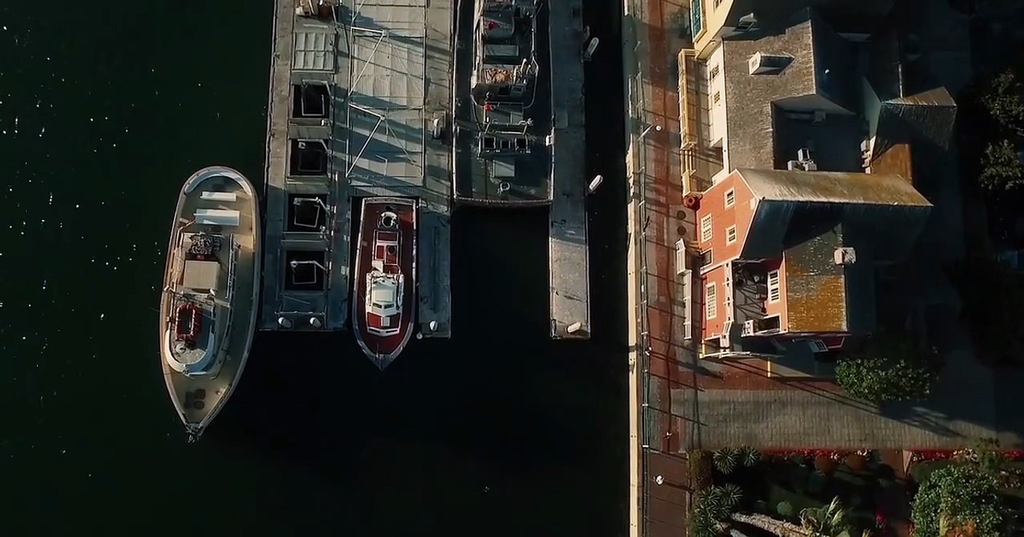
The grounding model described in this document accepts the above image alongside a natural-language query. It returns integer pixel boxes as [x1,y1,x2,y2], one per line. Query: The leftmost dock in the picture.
[259,0,351,331]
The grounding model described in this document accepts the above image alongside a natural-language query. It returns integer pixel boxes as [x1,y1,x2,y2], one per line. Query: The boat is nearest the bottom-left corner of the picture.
[158,166,266,446]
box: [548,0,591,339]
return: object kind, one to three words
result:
pier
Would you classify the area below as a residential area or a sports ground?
residential area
